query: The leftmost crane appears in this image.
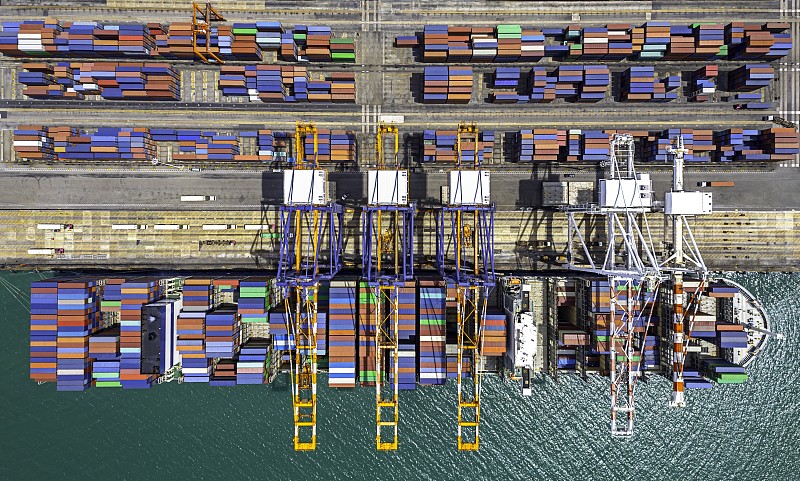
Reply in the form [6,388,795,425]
[192,2,224,64]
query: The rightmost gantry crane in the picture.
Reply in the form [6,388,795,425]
[620,136,712,407]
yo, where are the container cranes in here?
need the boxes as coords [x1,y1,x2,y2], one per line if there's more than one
[620,136,712,407]
[355,123,419,452]
[192,2,224,64]
[559,134,662,436]
[430,121,496,452]
[273,121,349,452]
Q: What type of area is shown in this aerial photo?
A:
port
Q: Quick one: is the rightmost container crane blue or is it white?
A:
white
